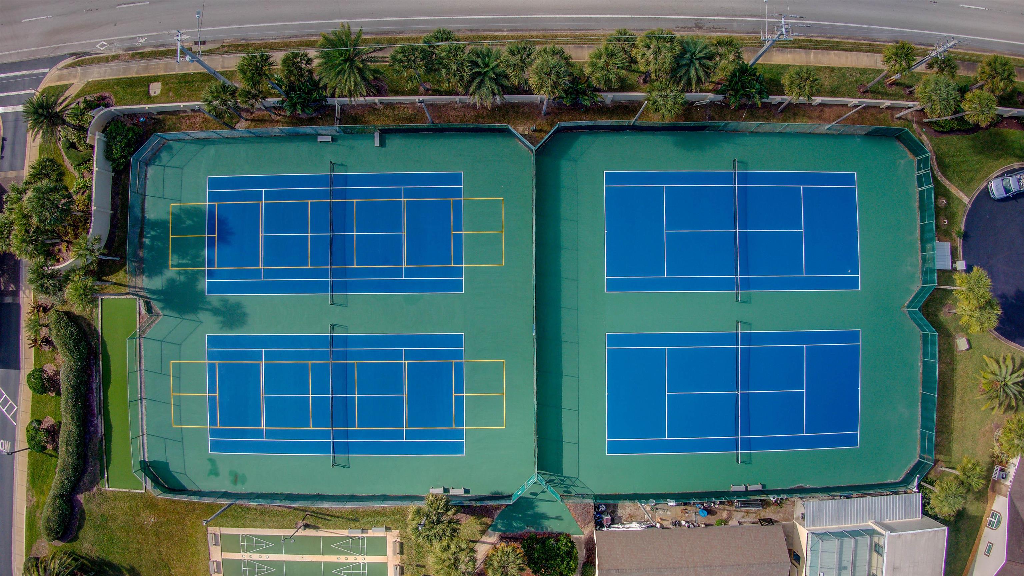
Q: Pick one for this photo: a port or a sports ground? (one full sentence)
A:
The area seen from above is a sports ground.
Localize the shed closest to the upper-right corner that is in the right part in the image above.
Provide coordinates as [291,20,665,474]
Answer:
[926,242,951,269]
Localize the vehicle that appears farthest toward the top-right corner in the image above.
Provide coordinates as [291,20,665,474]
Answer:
[988,169,1024,198]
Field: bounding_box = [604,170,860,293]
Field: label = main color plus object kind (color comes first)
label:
blue tennis court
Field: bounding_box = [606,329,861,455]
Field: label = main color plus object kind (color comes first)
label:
blue tennis court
